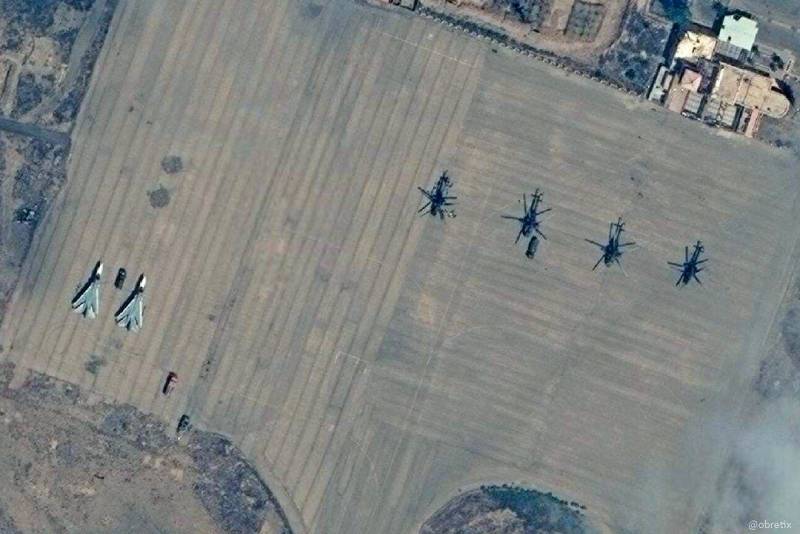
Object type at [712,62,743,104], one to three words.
building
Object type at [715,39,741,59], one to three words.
shed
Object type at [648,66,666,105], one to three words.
house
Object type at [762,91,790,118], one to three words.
building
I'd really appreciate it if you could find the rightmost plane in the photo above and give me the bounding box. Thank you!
[116,276,145,331]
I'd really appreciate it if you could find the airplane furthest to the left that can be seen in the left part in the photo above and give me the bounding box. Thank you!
[73,264,102,319]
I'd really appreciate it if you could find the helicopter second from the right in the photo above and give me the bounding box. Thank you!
[589,222,639,278]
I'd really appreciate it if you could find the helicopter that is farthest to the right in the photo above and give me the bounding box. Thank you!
[671,244,712,291]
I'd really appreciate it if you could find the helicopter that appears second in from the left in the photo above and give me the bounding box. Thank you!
[505,193,555,249]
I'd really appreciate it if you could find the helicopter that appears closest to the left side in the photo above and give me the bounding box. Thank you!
[421,177,461,224]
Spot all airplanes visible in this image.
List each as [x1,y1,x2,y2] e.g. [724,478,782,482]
[116,276,145,331]
[73,264,102,319]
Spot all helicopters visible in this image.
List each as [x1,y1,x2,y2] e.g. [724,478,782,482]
[421,177,461,224]
[505,193,555,249]
[589,222,639,278]
[671,244,712,291]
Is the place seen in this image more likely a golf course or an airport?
airport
